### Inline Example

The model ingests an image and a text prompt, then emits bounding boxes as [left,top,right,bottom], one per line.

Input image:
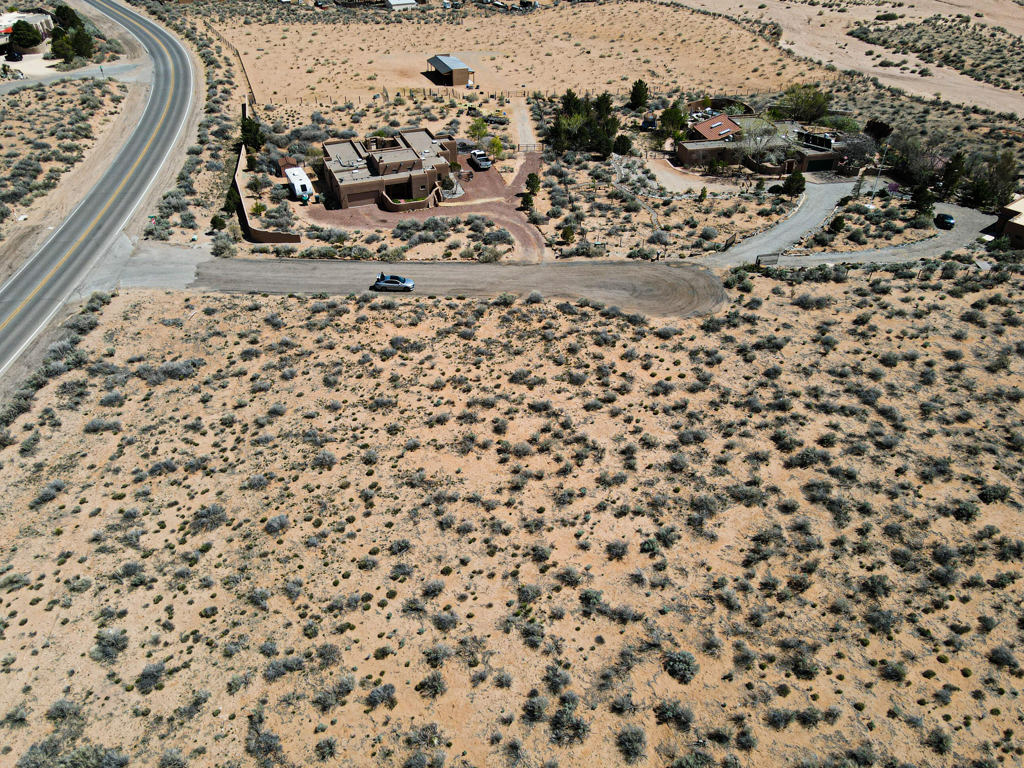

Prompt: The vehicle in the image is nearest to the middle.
[375,273,415,292]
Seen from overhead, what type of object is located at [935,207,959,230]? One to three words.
car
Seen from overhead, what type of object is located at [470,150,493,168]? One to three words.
vehicle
